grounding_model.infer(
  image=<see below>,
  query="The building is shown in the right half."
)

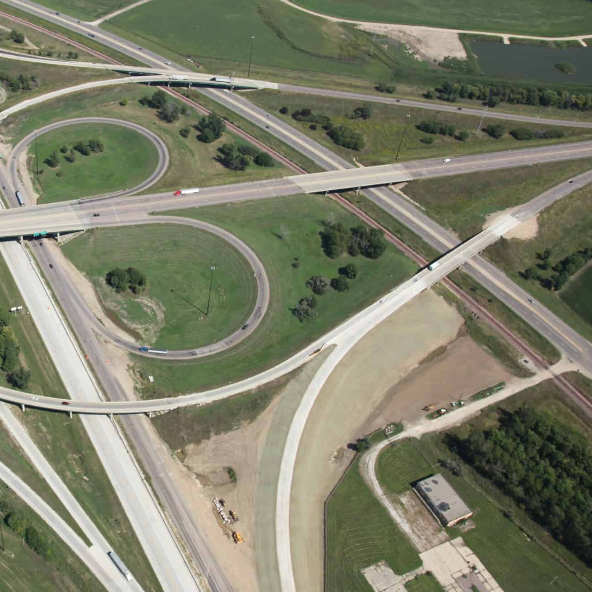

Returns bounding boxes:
[415,472,474,529]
